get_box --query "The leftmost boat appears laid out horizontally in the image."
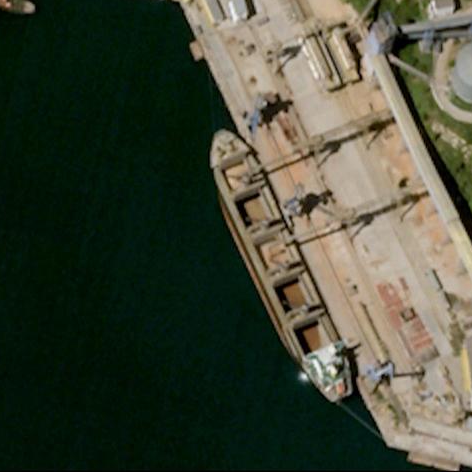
[0,0,37,15]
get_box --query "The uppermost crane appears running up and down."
[241,91,268,150]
